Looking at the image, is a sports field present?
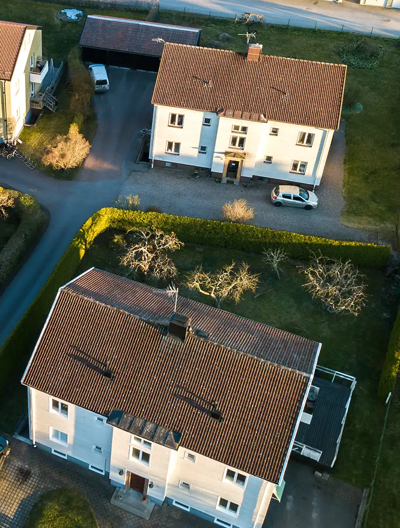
No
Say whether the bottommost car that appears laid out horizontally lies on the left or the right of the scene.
right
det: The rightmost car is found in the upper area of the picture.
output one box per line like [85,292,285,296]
[270,183,320,211]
